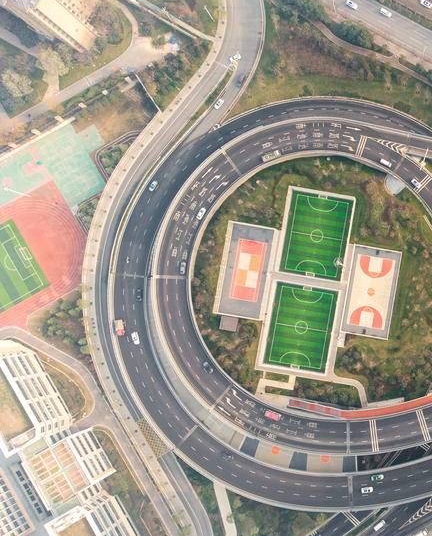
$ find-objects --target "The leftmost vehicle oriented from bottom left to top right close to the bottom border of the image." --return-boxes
[372,520,387,534]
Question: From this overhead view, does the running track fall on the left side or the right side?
left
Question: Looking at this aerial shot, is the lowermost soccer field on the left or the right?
right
